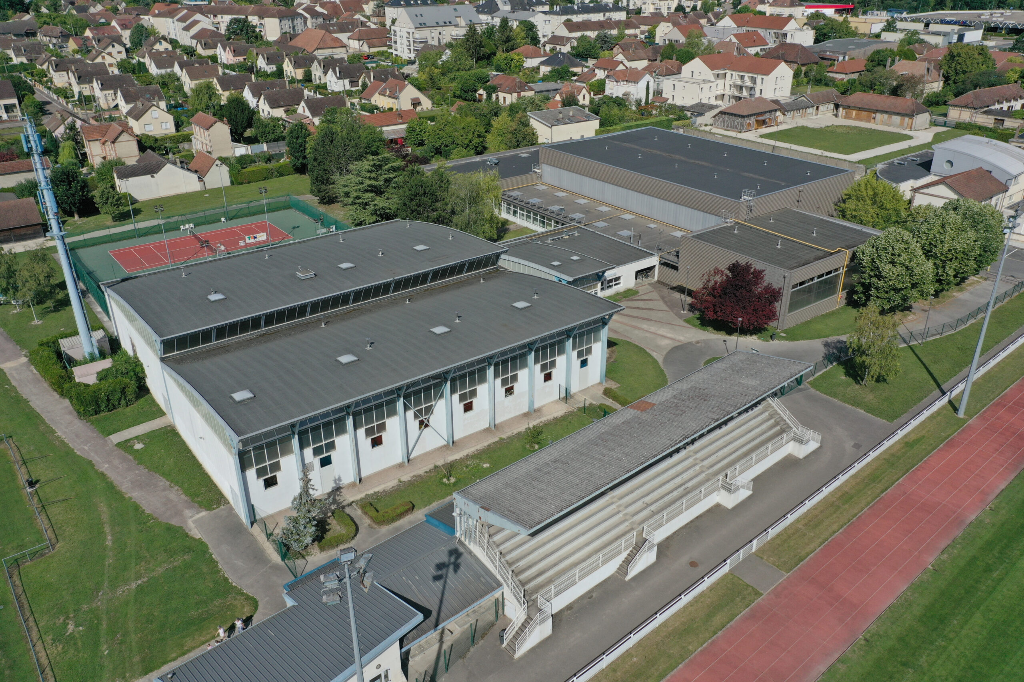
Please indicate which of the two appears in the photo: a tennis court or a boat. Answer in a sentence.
This aerial view contains a tennis court.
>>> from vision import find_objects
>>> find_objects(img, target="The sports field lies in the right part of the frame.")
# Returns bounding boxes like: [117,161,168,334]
[813,471,1024,682]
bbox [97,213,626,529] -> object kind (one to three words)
building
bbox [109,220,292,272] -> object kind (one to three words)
tennis court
